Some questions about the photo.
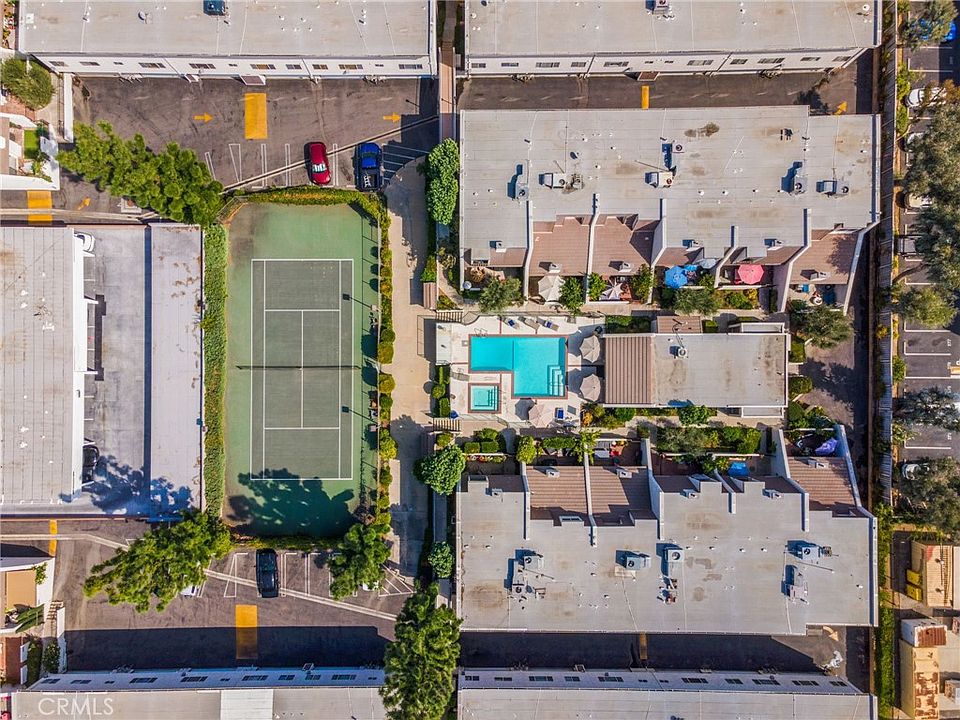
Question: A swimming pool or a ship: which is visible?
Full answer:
There is a swimming pool in the scene.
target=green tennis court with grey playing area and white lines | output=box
[227,206,382,540]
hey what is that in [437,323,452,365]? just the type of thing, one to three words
shed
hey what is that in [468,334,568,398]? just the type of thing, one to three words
swimming pool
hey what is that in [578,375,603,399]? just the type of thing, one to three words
umbrella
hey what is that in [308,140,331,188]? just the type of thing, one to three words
car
